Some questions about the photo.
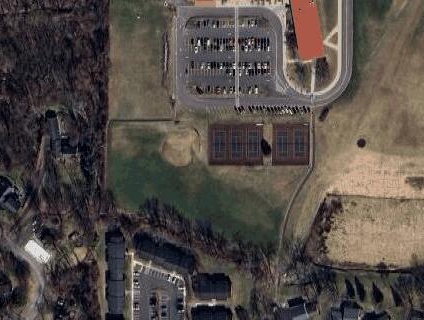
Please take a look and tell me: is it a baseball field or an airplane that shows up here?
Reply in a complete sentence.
This aerial view contains a baseball field.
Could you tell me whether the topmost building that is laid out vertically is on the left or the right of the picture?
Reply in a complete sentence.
You can find the topmost building that is laid out vertically on the right side of the picture.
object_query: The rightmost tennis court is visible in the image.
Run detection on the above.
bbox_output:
[291,124,309,165]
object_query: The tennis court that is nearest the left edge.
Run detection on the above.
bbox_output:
[209,124,228,165]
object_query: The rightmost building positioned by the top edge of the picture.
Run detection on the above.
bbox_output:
[291,0,323,60]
